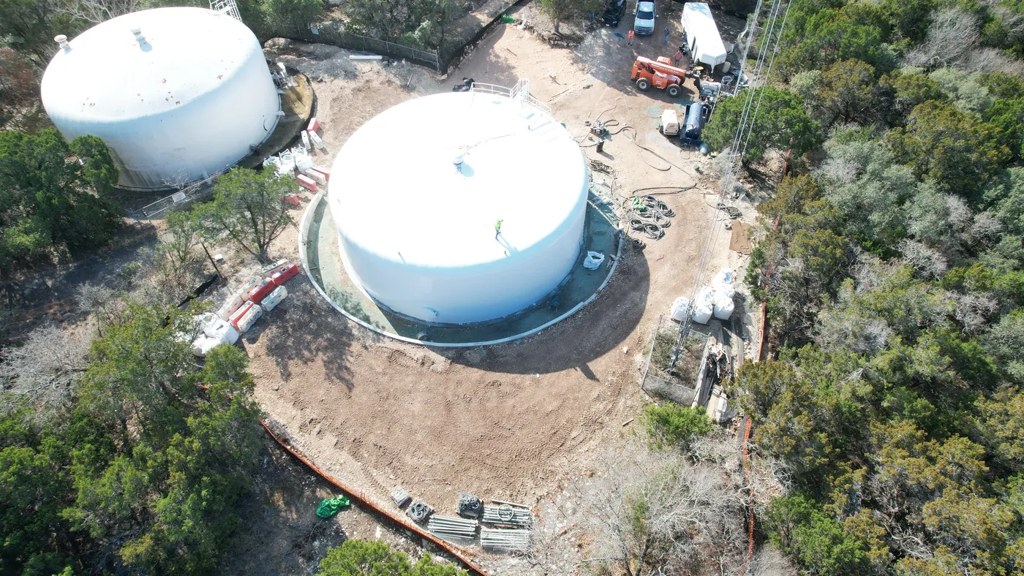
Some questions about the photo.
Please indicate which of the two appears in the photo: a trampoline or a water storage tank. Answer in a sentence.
I can see a water storage tank in this picture.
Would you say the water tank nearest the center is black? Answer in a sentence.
No, from above the water tank nearest the center looks white.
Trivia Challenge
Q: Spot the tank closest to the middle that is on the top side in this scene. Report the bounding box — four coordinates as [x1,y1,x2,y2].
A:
[329,78,589,331]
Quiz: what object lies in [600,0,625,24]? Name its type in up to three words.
car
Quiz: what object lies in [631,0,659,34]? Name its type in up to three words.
truck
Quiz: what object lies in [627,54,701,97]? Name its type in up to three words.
work vehicle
